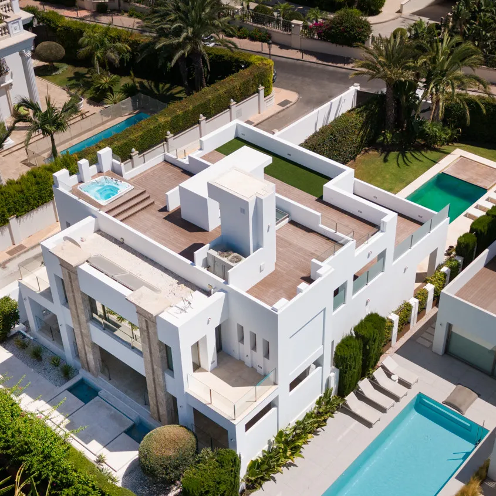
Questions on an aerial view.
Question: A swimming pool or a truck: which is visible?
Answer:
swimming pool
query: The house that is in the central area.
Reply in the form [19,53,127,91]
[12,118,450,472]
